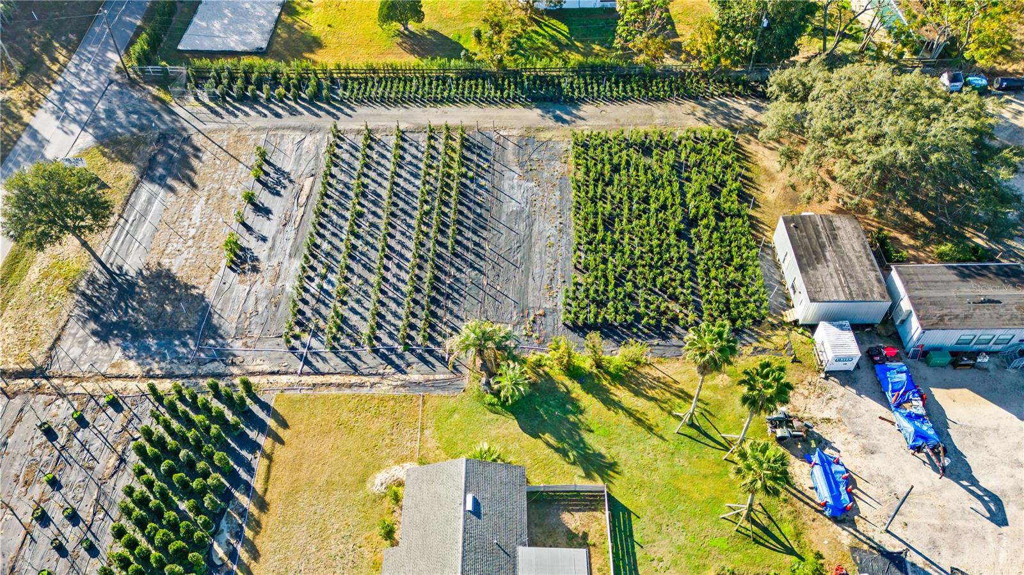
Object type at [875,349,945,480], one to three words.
trailer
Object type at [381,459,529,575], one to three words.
house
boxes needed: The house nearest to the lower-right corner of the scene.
[884,264,1024,349]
